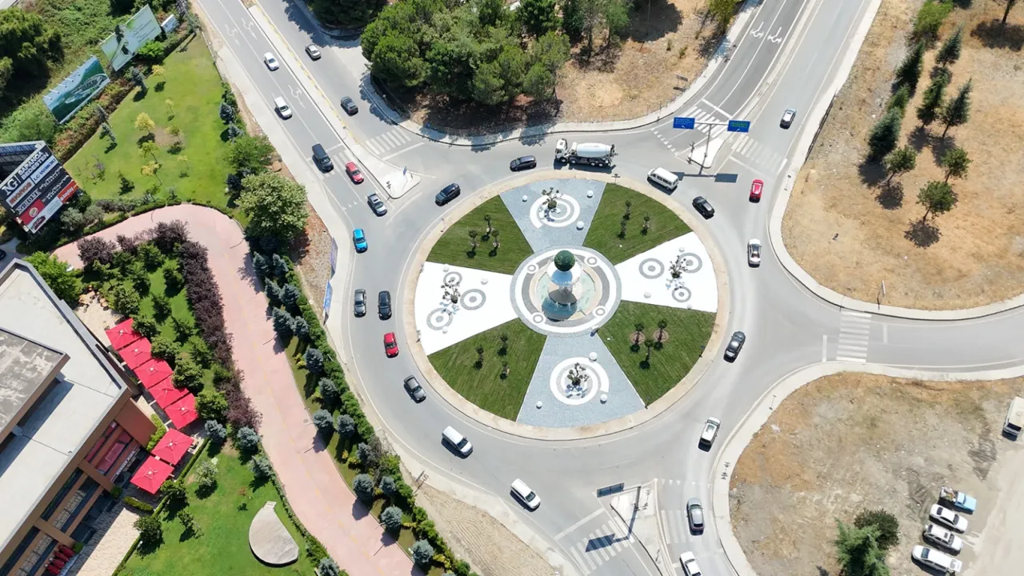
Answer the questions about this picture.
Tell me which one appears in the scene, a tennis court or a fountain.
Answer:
fountain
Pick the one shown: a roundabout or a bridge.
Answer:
roundabout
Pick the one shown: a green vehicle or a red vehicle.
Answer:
red vehicle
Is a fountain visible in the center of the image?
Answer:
Yes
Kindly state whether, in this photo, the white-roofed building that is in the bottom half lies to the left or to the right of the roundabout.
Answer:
on its left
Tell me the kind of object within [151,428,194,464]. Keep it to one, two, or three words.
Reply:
umbrella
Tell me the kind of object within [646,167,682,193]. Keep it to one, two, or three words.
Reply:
vehicle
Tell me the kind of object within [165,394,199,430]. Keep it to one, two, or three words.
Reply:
umbrella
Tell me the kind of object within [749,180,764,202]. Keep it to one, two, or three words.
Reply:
car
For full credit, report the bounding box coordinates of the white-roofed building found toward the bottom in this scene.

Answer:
[0,259,155,576]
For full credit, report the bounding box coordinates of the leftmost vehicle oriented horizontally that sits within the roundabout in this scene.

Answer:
[509,156,537,172]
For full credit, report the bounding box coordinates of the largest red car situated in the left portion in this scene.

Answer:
[382,330,399,358]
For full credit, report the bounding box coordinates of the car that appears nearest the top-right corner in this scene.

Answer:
[779,108,796,130]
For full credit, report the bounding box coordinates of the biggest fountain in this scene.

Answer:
[530,249,602,318]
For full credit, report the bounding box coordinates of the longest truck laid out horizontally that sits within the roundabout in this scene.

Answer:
[557,139,619,169]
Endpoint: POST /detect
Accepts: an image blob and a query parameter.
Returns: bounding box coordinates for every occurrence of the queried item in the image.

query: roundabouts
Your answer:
[347,134,791,501]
